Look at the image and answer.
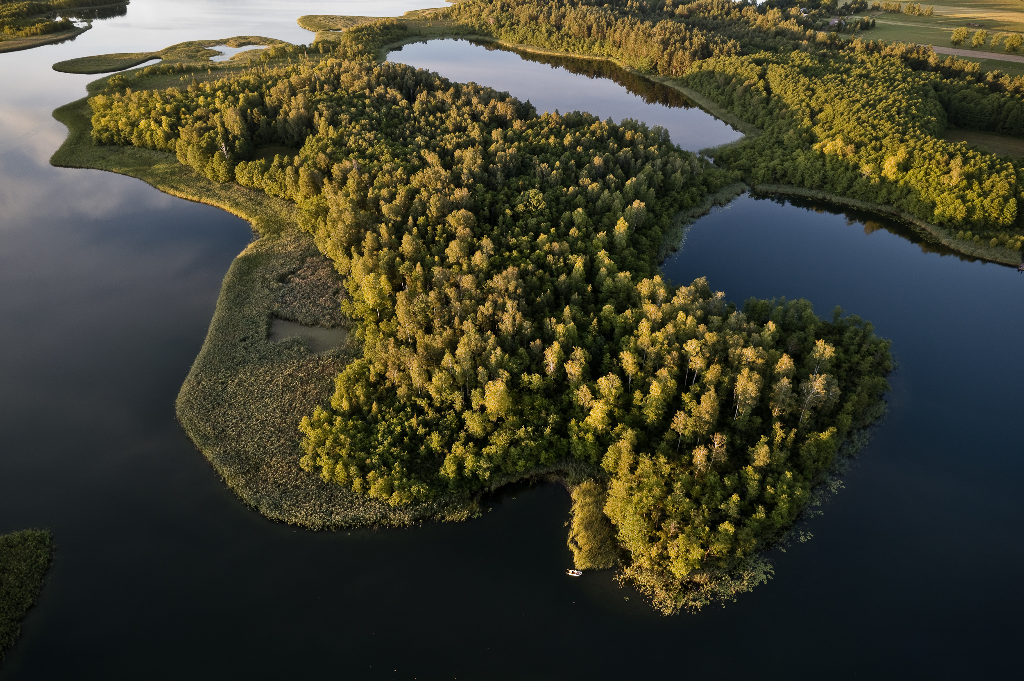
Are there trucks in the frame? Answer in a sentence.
No, the photo shows no truck.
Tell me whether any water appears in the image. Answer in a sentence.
Yes, water shows up in the scene.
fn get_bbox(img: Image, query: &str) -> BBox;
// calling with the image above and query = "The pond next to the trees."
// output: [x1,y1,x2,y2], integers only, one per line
[267,317,353,361]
